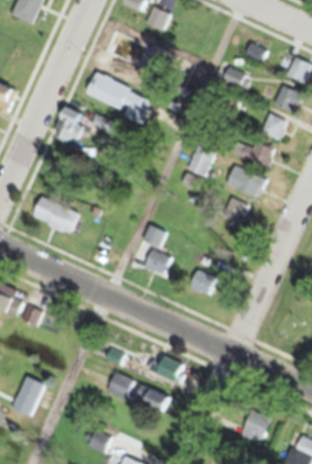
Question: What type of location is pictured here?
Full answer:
This image shows a residential area.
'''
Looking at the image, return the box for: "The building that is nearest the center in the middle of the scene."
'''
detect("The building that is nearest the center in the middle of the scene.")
[144,224,169,247]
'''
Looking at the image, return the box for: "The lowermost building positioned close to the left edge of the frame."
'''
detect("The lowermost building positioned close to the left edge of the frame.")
[16,377,45,416]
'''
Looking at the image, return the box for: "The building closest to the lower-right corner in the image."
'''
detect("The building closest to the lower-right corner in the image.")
[288,436,312,464]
